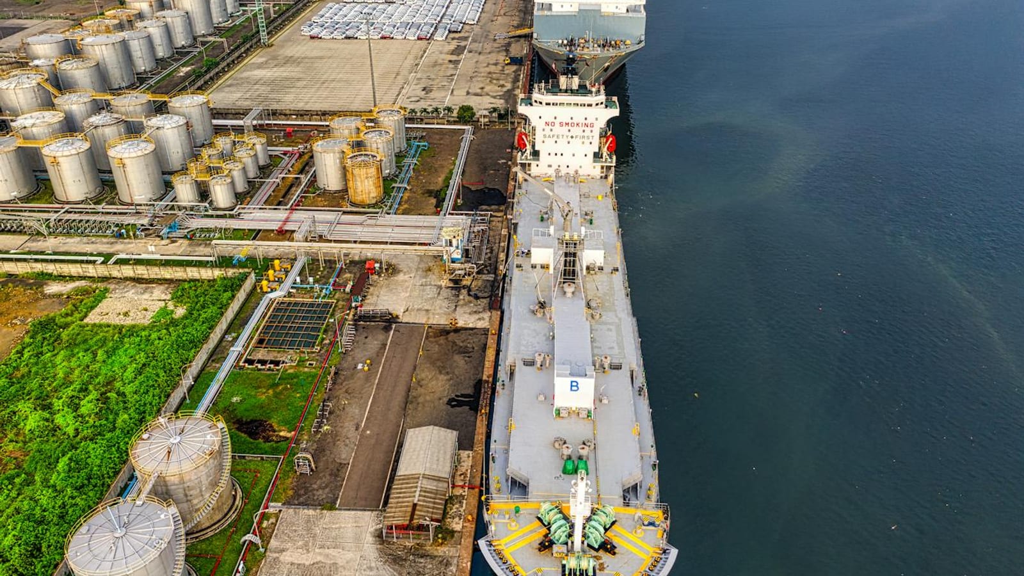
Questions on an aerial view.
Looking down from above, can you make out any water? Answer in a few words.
Yes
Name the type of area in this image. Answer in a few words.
industrial area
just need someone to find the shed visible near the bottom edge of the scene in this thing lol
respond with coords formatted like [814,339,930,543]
[382,425,459,551]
